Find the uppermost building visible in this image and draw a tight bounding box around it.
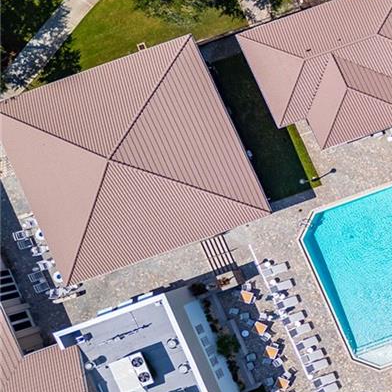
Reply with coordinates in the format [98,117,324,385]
[236,0,392,149]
